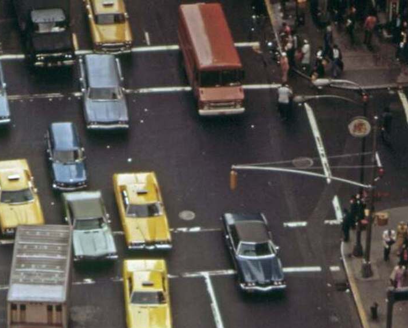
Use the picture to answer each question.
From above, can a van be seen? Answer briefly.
Yes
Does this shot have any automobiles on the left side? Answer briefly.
Yes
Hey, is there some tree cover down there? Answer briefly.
No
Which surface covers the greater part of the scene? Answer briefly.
paved ground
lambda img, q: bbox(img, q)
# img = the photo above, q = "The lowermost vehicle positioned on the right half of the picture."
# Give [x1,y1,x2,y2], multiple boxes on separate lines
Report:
[221,213,285,290]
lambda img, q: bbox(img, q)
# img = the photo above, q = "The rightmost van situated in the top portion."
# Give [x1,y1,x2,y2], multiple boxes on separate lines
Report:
[179,1,247,116]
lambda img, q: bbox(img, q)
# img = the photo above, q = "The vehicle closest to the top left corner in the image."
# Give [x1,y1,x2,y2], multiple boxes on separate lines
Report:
[25,0,75,67]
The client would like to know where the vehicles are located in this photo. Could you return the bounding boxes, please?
[179,1,247,116]
[6,223,68,328]
[43,122,87,189]
[83,0,132,53]
[79,56,128,129]
[221,213,285,290]
[25,0,75,67]
[122,259,172,328]
[60,189,117,260]
[113,174,172,250]
[0,160,42,233]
